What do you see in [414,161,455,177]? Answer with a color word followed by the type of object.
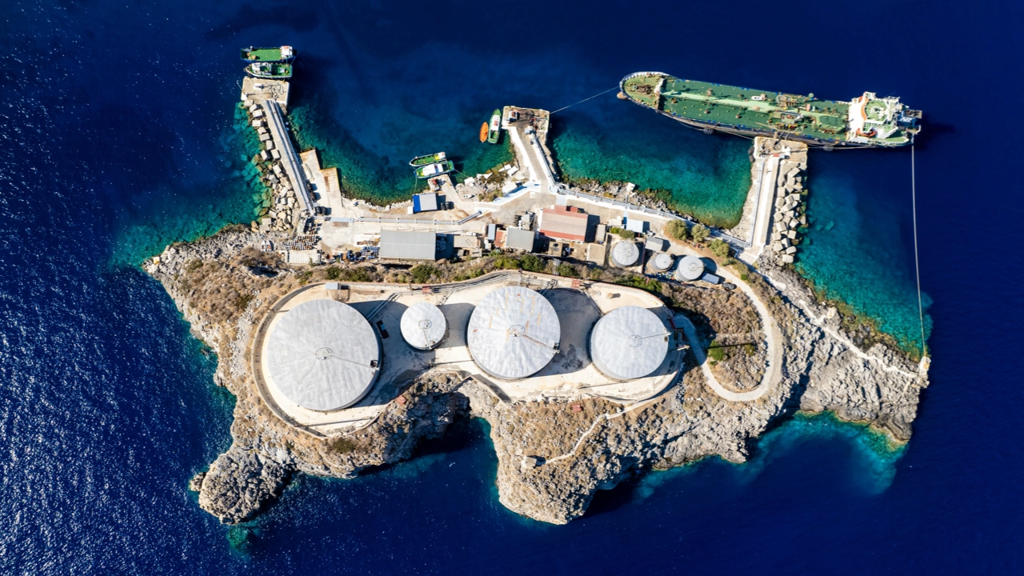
white boat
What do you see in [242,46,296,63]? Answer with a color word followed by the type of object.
green boat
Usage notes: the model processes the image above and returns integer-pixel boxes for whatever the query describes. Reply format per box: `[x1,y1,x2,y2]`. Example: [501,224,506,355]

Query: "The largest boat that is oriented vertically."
[487,109,501,145]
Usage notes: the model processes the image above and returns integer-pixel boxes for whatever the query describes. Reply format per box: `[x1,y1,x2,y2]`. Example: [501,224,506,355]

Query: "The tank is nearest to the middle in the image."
[466,286,560,380]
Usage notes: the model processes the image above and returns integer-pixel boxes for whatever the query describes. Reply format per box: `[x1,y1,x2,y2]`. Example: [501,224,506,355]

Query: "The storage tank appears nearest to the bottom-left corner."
[267,299,381,411]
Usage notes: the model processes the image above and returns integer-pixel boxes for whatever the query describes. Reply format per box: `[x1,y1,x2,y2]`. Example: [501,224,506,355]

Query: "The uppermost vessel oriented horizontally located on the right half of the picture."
[619,74,922,153]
